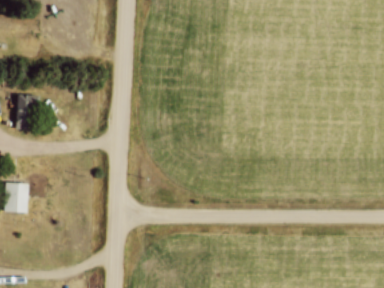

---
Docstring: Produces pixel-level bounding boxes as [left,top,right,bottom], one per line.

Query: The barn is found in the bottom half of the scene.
[5,182,30,214]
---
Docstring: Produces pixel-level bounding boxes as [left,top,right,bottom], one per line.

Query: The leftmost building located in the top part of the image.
[17,94,34,130]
